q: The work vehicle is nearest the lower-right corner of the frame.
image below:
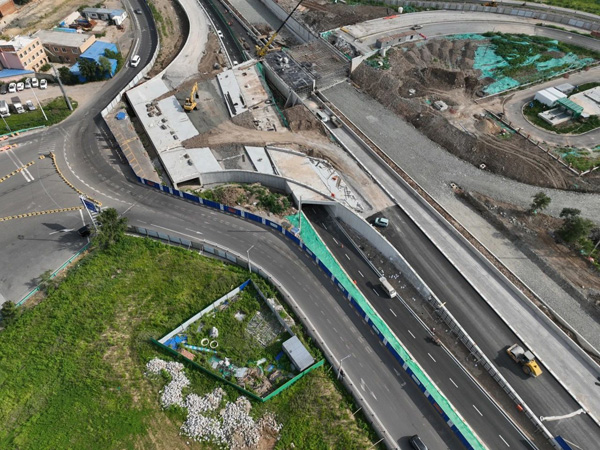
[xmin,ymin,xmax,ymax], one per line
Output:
[508,340,544,376]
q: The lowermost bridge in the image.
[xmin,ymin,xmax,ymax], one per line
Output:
[186,145,368,219]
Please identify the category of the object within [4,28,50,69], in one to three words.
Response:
building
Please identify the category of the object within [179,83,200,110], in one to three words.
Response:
work vehicle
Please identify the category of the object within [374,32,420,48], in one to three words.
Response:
shed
